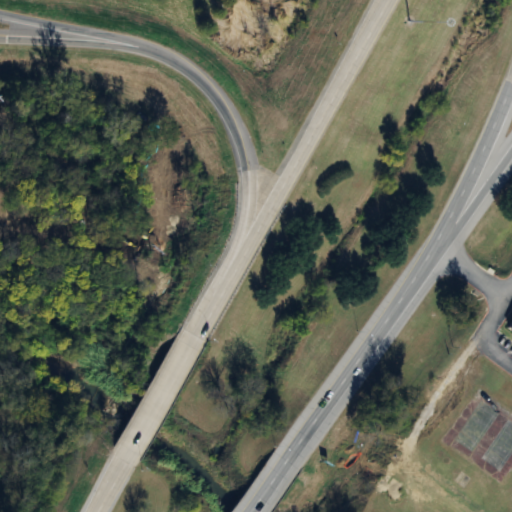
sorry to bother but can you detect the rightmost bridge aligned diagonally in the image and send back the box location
[232,447,304,512]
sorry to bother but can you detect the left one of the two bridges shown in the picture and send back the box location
[110,326,208,463]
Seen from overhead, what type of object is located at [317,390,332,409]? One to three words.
vehicle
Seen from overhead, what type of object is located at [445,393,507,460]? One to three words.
tennis court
